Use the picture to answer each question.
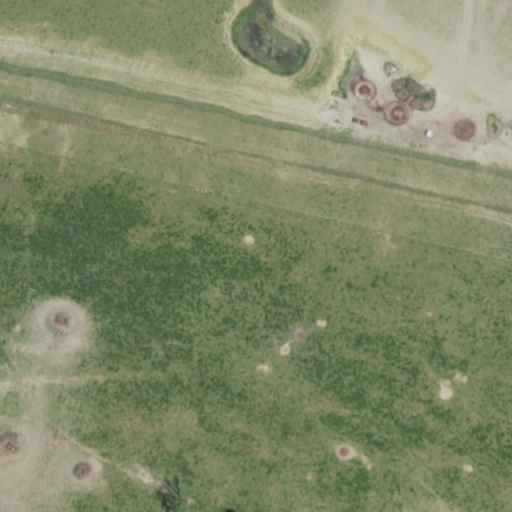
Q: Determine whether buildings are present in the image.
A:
No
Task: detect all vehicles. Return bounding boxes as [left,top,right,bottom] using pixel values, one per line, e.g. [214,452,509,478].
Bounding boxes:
[352,118,368,126]
[332,92,347,98]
